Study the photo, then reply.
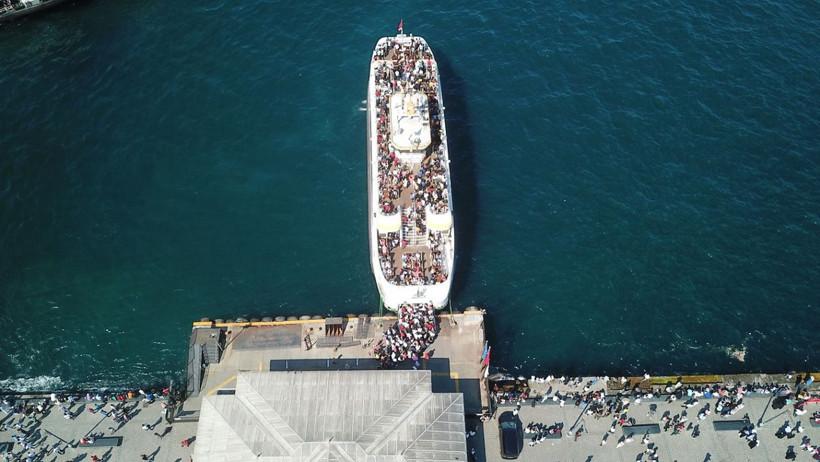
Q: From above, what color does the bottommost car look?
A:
black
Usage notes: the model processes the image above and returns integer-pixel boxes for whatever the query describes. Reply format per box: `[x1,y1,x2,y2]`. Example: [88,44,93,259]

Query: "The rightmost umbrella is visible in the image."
[770,396,786,411]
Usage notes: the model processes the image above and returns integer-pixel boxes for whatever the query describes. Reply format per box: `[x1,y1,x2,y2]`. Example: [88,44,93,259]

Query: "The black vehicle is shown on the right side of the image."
[497,412,523,462]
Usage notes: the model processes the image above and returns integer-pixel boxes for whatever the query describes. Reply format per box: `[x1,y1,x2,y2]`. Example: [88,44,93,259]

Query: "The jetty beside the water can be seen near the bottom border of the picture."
[192,306,495,462]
